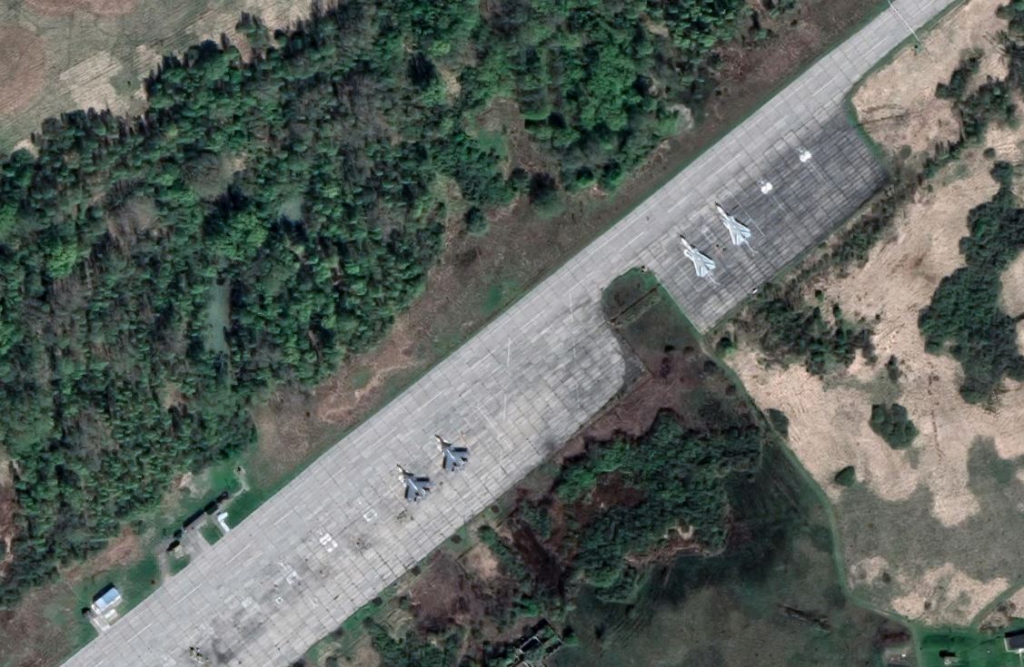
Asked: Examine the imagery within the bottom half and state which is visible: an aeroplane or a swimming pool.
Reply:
aeroplane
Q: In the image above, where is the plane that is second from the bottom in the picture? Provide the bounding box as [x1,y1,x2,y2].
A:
[434,436,468,473]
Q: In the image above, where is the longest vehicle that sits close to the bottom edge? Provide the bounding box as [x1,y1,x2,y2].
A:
[189,647,204,663]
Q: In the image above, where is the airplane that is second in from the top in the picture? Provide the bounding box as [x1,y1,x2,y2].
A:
[681,237,716,278]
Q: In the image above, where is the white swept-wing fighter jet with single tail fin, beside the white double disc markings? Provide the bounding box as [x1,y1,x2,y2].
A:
[714,202,751,245]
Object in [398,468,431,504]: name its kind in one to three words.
airplane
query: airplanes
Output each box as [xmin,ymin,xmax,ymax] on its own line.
[681,237,716,278]
[434,436,468,473]
[398,468,431,504]
[714,202,751,245]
